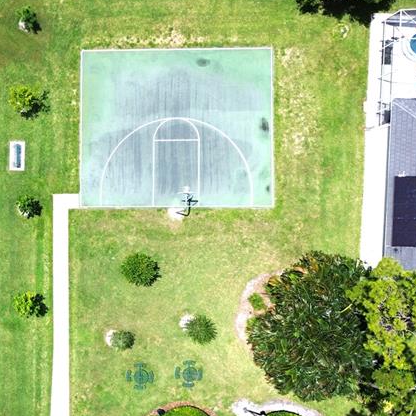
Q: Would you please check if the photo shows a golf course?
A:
No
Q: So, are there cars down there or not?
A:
No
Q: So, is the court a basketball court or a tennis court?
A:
basketball court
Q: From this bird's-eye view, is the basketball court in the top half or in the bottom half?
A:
top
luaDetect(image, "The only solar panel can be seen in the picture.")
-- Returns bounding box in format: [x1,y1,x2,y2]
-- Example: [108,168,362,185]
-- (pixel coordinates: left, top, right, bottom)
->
[393,175,416,247]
